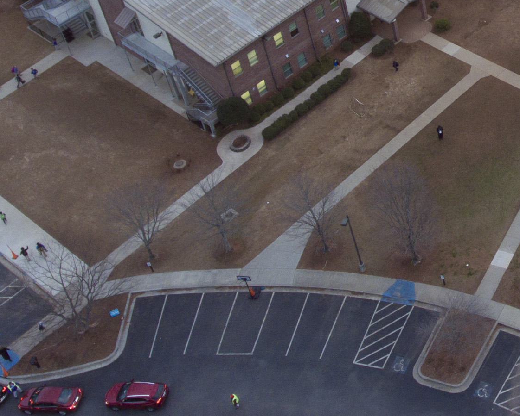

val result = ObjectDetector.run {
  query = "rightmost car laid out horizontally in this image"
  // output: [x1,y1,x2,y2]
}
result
[102,379,172,413]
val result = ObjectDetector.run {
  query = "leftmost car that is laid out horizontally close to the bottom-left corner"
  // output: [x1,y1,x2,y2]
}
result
[15,383,86,416]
